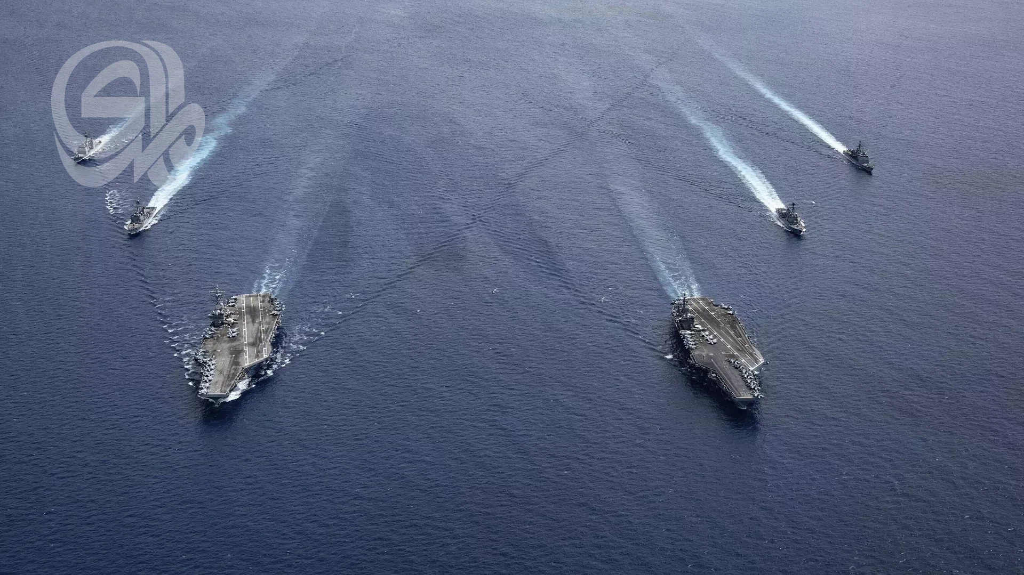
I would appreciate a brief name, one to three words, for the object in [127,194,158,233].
ship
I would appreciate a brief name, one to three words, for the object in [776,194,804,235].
ship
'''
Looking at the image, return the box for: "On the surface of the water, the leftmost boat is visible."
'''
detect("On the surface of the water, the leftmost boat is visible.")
[73,130,101,164]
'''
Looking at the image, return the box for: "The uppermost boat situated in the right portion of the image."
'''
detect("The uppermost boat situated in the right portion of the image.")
[842,140,874,172]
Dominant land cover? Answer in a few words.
water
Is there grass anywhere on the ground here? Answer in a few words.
No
